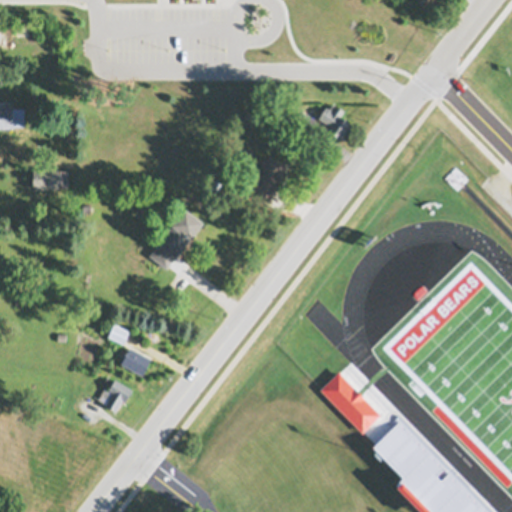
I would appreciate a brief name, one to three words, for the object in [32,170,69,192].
house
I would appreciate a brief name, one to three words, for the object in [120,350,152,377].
house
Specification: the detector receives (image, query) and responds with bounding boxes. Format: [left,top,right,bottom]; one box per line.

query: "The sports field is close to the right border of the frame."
[372,253,512,494]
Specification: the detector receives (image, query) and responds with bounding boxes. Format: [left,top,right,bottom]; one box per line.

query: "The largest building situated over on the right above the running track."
[316,104,352,142]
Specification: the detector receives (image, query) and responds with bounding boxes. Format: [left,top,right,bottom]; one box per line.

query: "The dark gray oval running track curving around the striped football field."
[306,220,512,512]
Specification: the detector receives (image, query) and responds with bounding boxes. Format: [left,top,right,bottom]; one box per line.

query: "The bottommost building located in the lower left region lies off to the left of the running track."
[97,382,133,415]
